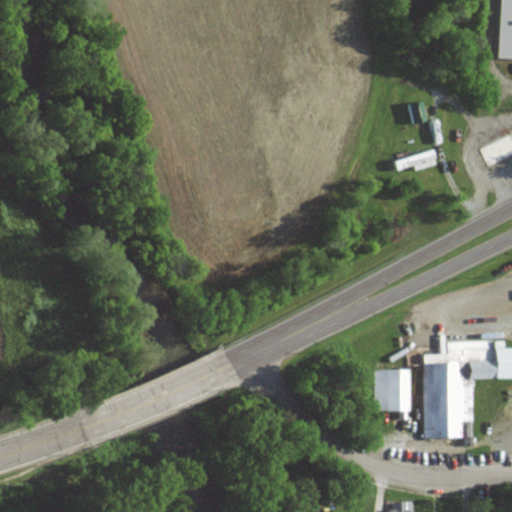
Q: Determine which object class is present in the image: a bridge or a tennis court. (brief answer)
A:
bridge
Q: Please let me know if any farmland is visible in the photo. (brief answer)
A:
Yes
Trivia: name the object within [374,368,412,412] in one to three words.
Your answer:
shed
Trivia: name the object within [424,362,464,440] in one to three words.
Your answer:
barn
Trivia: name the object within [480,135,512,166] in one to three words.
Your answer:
building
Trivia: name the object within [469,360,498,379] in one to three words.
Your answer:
building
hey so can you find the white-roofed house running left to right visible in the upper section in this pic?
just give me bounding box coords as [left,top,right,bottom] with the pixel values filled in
[394,148,437,172]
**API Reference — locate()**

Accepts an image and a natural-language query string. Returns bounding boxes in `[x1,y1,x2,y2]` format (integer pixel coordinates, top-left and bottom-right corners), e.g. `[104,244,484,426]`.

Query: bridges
[79,345,241,447]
